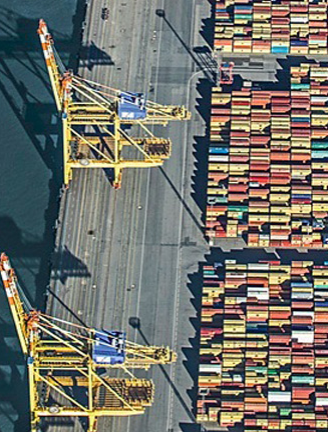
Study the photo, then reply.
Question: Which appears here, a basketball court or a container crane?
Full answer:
It is a container crane that can be seen here.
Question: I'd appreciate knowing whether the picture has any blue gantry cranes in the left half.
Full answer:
No, no blue gantry crane appears in the left half.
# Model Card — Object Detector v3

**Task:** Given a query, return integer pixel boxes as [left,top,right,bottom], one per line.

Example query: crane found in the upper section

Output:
[37,16,192,190]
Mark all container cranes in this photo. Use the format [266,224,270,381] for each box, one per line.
[0,247,179,432]
[37,16,192,190]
